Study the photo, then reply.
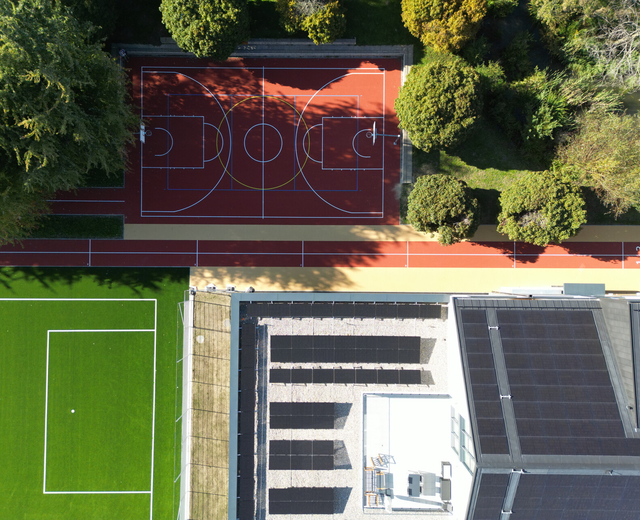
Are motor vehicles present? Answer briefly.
No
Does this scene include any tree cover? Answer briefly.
Yes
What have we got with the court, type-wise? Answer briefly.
basketball court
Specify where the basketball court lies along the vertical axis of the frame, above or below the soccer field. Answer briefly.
above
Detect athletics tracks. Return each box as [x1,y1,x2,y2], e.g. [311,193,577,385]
[0,239,640,268]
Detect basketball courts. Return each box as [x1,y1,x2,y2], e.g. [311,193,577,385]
[124,58,401,224]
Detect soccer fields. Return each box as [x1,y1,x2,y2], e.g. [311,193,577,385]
[0,267,190,520]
